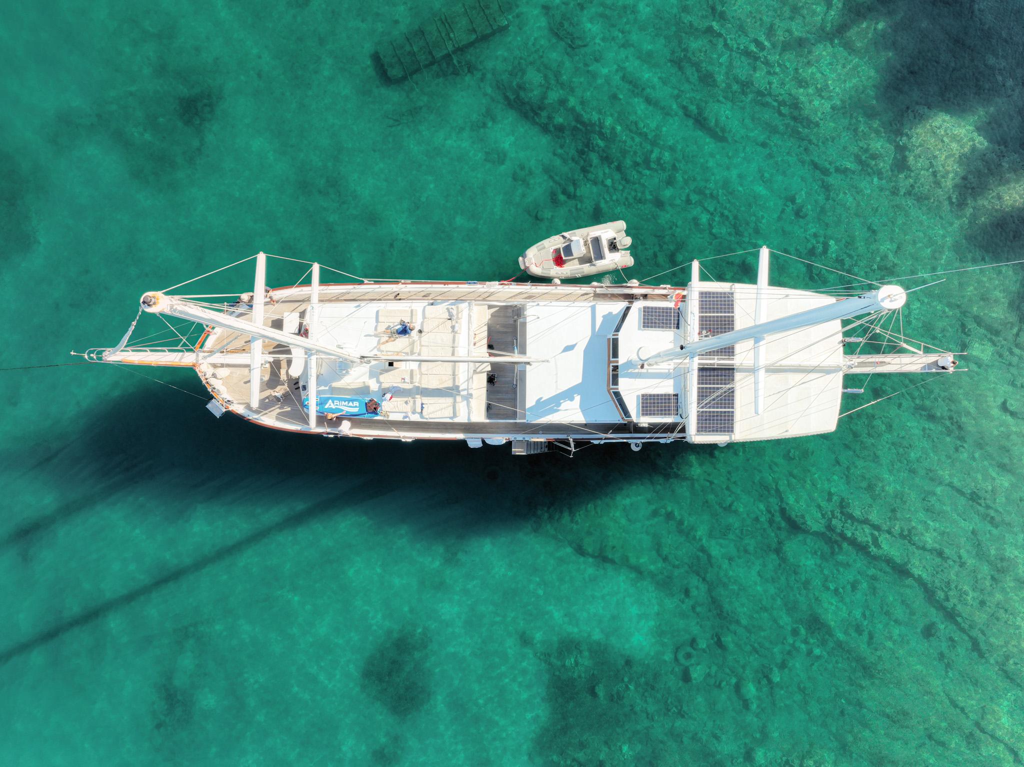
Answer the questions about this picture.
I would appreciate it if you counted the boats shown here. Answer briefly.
2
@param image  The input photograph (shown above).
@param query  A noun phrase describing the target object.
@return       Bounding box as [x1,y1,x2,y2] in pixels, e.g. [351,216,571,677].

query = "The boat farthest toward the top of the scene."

[518,221,632,278]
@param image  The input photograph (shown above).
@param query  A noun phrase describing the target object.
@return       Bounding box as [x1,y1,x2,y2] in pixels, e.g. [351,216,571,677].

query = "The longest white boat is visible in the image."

[71,244,968,456]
